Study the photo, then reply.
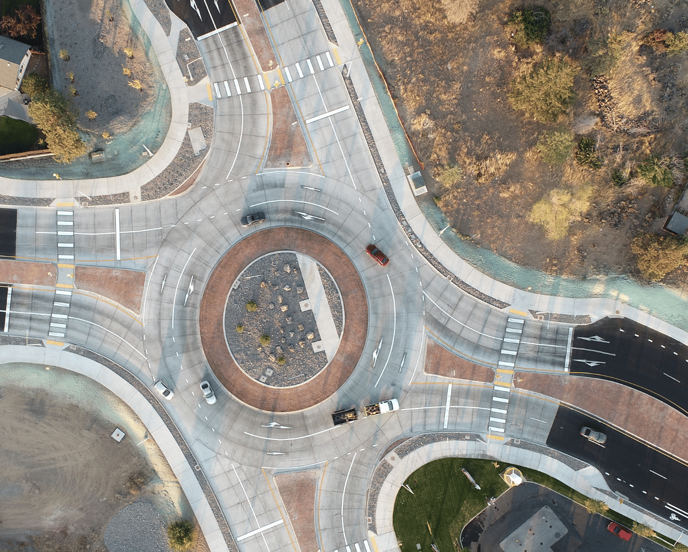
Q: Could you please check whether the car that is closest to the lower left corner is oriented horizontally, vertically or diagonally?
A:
diagonally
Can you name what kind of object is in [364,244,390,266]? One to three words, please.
car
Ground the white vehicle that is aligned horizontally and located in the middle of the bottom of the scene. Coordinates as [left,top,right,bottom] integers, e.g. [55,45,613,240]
[364,399,399,416]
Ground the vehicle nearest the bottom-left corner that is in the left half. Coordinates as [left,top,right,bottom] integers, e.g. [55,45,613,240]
[152,377,175,402]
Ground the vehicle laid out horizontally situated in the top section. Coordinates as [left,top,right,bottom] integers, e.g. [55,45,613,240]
[239,210,266,226]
